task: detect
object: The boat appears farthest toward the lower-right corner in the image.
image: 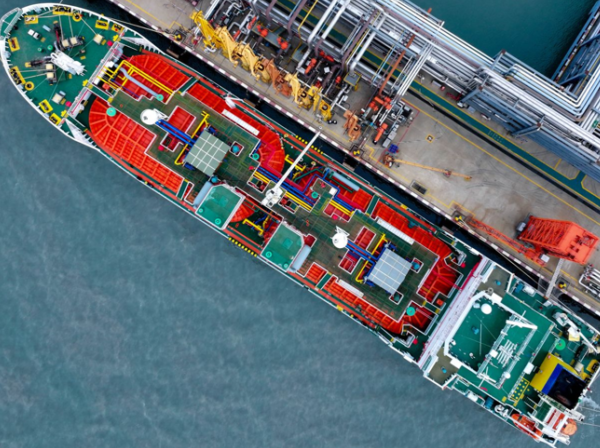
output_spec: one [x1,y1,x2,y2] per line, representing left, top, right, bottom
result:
[562,418,576,435]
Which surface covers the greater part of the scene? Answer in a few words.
water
